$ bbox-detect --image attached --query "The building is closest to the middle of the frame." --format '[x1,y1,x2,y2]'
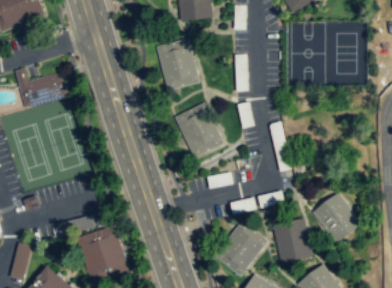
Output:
[176,104,226,158]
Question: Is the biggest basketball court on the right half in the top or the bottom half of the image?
top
